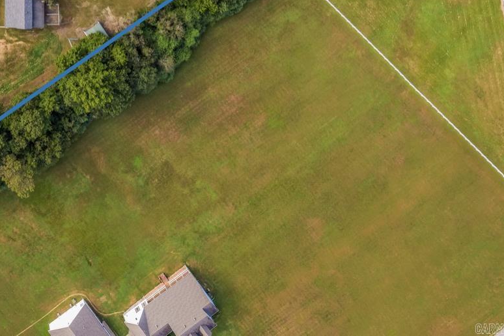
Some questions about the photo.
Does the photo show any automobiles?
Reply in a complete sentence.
No, the frame has no automobile in it.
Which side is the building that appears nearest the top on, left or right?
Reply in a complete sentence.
The building that appears nearest the top sits on the left side.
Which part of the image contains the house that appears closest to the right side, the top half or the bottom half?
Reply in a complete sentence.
The house that appears closest to the right side sits in the bottom half of the picture.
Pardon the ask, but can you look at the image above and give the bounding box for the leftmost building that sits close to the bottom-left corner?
[47,301,113,336]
